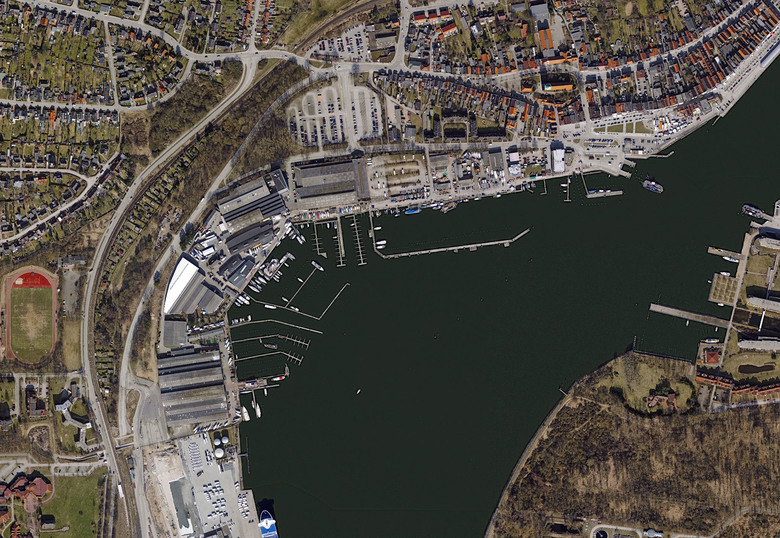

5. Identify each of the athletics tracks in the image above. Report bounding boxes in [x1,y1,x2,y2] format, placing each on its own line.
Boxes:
[6,267,56,367]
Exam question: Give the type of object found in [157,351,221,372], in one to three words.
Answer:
building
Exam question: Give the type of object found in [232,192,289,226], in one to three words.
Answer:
building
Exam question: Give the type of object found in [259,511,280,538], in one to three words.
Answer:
ship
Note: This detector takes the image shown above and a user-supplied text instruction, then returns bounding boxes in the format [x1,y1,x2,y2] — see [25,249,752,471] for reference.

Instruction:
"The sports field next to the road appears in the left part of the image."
[11,287,52,363]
